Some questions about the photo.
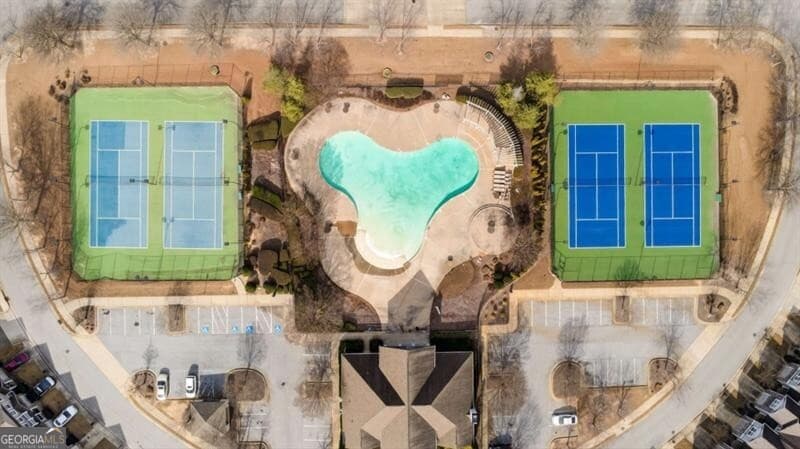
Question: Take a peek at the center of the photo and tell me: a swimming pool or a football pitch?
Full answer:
Visible at the center of the photo is a swimming pool.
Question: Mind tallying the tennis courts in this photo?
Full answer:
In total, there are 4 tennis courts in the scene.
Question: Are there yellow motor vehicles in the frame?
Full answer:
No, there is no yellow motor vehicle in the image.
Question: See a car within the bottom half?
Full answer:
Yes, there is a car within the bottom half.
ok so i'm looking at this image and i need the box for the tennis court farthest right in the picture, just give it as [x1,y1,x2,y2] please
[635,90,717,280]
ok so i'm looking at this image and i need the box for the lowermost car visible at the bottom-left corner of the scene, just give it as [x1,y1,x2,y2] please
[51,404,77,426]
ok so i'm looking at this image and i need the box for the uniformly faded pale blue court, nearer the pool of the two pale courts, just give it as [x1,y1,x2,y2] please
[156,86,241,280]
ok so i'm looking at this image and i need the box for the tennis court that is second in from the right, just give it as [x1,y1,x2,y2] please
[551,90,635,281]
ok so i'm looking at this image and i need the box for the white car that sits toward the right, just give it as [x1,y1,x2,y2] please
[552,412,578,425]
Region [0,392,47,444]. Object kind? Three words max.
house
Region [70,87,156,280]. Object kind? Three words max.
tennis court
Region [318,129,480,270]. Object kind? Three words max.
swimming pool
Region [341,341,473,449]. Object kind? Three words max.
building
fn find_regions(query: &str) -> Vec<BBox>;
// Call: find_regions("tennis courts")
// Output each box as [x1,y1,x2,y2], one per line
[70,87,156,280]
[551,90,635,281]
[156,86,241,280]
[635,90,717,280]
